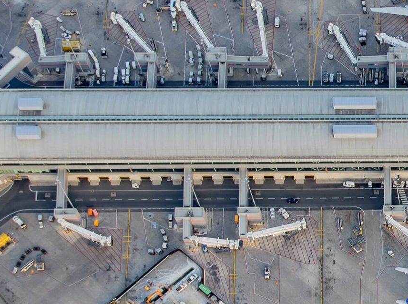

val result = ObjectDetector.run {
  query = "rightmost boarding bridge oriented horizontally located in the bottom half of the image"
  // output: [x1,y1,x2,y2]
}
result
[246,218,311,244]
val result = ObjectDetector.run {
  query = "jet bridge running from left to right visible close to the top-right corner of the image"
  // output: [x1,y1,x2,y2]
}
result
[375,32,408,46]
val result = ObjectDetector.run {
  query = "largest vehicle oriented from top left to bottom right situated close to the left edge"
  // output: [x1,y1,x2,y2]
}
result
[12,216,27,229]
